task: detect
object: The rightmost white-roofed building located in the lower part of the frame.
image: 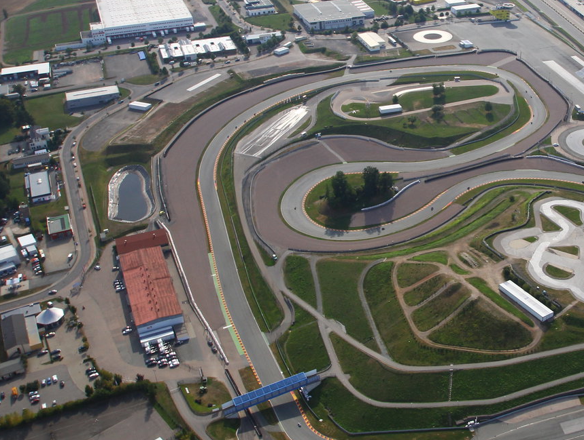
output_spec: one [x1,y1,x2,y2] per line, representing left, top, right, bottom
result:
[509,277,555,322]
